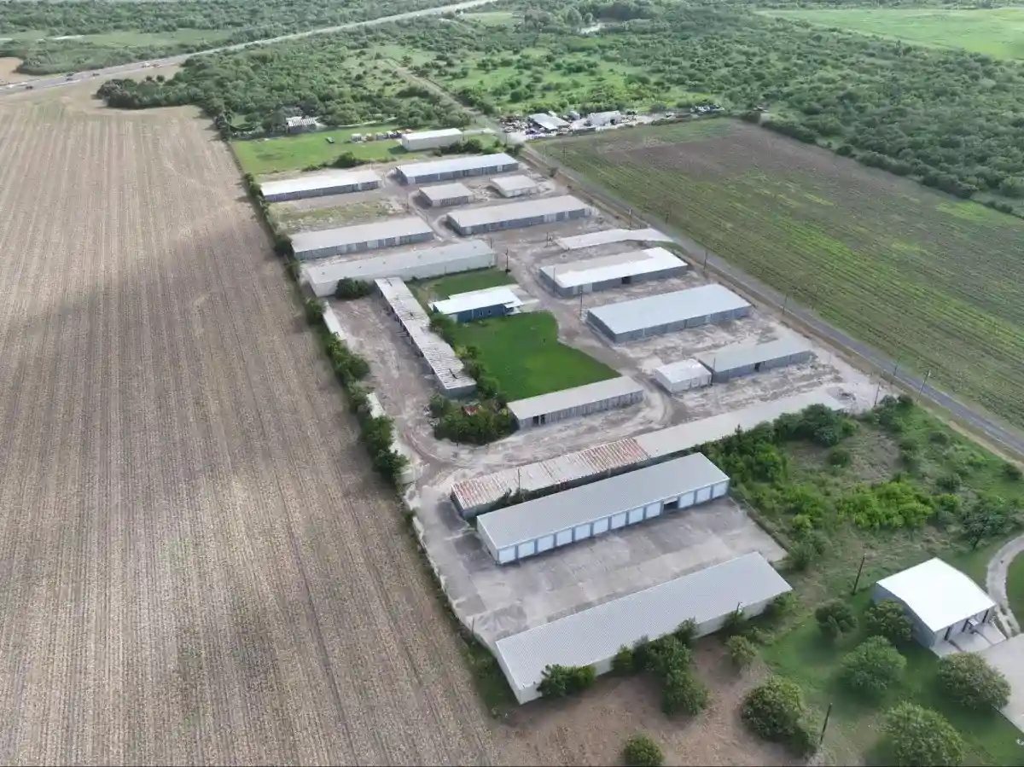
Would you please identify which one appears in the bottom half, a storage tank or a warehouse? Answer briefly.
warehouse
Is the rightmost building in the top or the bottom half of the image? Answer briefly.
bottom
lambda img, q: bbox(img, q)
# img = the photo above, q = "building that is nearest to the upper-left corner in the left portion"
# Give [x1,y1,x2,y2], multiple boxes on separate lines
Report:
[285,115,318,132]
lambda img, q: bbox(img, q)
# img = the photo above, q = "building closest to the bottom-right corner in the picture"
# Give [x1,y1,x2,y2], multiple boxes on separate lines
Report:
[874,557,1000,655]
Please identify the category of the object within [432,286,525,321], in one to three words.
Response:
house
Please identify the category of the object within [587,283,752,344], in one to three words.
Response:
building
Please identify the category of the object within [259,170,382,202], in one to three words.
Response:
building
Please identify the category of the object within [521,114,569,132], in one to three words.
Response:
shed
